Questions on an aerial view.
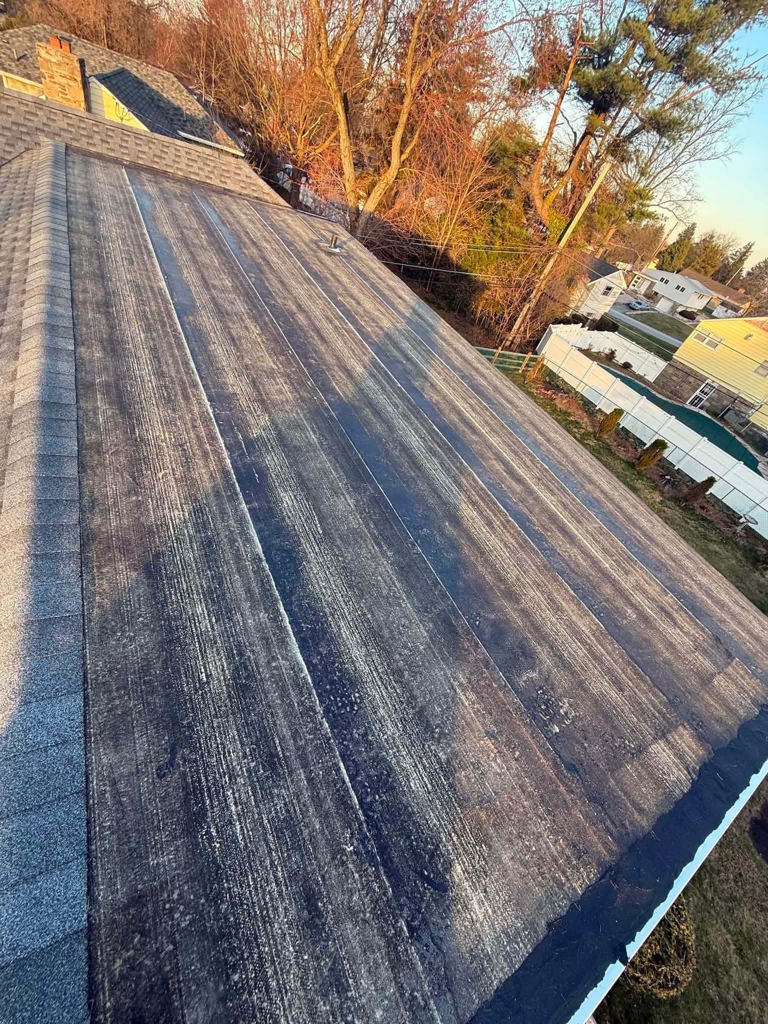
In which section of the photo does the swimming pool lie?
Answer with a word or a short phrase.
right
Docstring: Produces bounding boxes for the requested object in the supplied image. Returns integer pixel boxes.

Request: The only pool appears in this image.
[601,362,768,496]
